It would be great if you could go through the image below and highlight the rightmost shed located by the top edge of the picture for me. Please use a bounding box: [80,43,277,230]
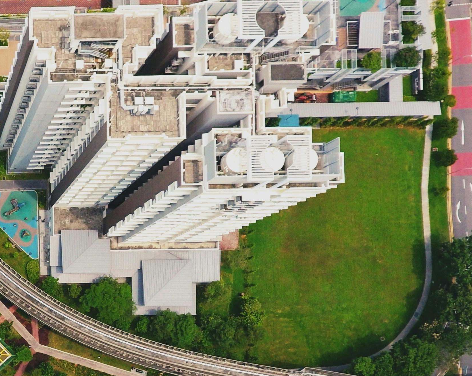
[352,12,385,52]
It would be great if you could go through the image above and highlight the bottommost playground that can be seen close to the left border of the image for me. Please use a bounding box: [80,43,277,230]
[0,189,39,258]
